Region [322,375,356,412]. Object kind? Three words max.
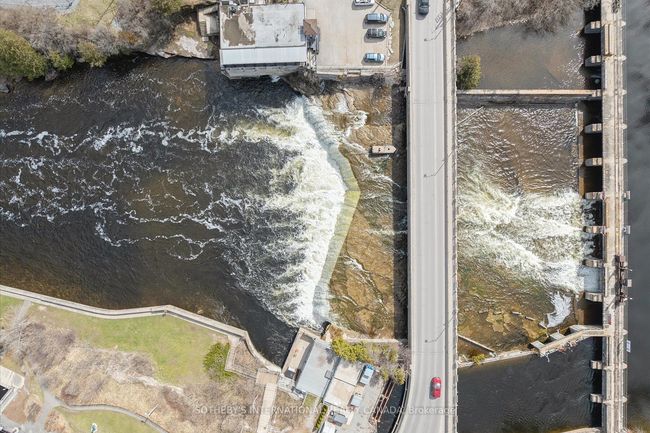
building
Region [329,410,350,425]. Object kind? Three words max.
car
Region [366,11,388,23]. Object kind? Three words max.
vehicle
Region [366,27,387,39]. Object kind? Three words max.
vehicle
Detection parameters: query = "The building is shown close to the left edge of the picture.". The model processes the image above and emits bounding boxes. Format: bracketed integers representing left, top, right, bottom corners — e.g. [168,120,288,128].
[0,357,32,413]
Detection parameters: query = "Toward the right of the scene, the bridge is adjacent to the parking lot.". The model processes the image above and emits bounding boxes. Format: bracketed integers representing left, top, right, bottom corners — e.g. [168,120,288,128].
[388,0,460,433]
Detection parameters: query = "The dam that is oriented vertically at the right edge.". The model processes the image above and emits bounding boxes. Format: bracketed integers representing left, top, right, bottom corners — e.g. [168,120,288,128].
[575,0,633,433]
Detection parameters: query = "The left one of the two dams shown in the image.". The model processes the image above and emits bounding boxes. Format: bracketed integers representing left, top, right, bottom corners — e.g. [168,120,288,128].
[303,96,361,329]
